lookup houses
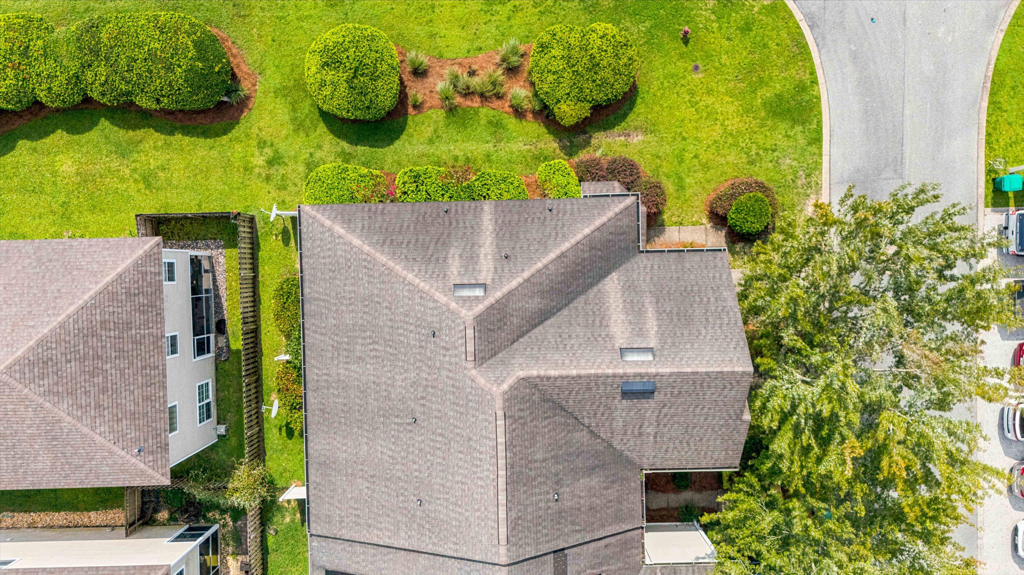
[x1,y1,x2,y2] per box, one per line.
[296,181,773,575]
[0,234,218,490]
[0,524,222,575]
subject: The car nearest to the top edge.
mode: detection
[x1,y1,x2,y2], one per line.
[1003,214,1024,255]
